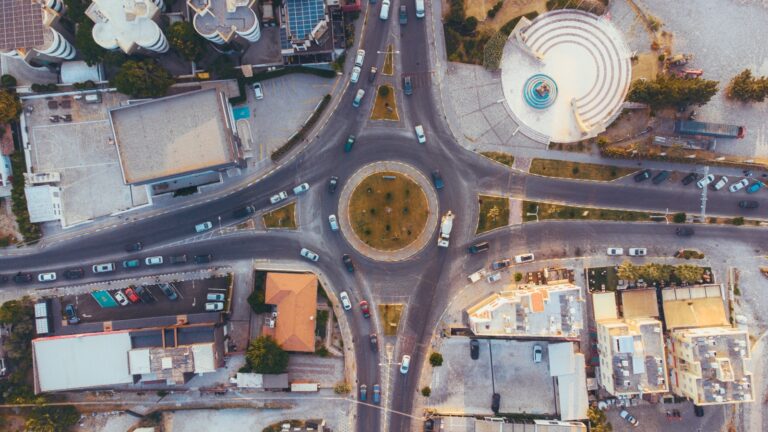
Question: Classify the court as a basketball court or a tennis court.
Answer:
basketball court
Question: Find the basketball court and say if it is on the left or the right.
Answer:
left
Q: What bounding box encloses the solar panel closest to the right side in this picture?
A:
[289,0,325,38]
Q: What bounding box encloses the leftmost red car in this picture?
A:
[125,287,140,303]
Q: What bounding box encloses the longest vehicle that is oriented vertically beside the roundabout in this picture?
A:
[438,212,454,248]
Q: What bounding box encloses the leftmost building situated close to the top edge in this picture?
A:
[0,0,82,68]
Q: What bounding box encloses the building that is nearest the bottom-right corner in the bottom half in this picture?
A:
[674,326,756,406]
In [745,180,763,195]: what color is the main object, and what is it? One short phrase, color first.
blue car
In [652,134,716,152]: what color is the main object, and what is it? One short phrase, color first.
gray trailer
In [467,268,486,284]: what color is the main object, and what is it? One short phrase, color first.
white vehicle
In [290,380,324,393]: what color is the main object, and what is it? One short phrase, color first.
white vehicle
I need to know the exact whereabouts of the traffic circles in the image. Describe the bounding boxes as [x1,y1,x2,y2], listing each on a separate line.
[338,161,439,261]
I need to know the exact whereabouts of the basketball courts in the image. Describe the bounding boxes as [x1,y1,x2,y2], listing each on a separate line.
[32,119,119,170]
